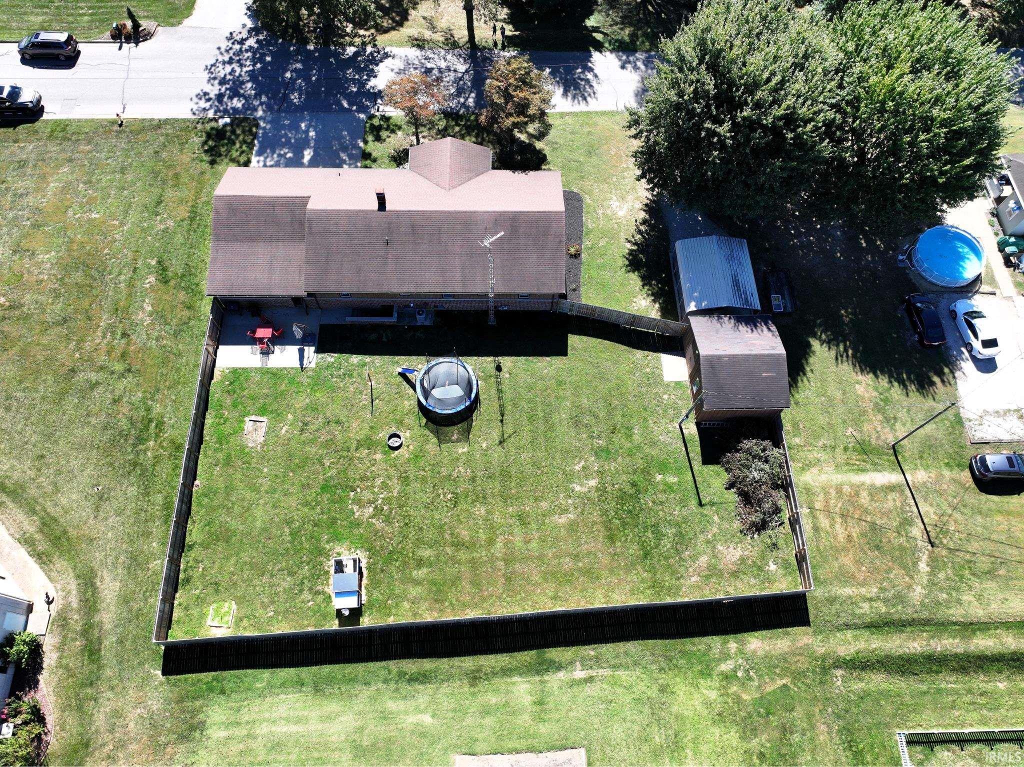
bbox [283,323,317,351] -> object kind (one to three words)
umbrella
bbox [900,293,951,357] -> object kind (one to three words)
car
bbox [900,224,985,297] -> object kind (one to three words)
swimming pool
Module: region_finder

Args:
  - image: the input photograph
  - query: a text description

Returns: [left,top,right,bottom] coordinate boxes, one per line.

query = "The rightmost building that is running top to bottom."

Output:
[990,151,1024,236]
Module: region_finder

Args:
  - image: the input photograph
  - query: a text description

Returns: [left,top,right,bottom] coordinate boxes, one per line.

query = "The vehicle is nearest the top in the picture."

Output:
[13,34,84,67]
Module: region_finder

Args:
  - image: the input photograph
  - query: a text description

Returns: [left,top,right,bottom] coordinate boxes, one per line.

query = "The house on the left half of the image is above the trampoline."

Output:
[208,134,566,322]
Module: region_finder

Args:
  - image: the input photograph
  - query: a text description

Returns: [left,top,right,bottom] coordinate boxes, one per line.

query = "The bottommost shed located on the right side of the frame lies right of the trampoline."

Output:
[684,313,792,423]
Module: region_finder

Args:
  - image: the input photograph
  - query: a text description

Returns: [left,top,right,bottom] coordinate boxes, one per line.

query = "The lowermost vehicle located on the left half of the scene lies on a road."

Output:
[0,86,49,117]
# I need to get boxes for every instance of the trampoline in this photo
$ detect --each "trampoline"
[412,346,478,418]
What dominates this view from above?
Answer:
grass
